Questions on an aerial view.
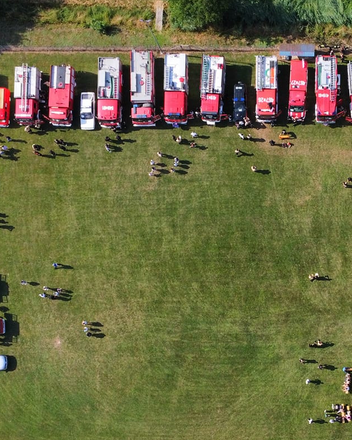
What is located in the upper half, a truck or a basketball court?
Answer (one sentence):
Looking in the upper half, you will find a truck.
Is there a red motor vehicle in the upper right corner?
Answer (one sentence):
Yes, looking in the upper right corner, one can make out a red motor vehicle.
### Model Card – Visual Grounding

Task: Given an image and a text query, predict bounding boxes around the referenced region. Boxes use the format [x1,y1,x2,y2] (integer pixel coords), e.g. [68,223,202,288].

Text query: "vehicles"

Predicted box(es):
[129,49,163,126]
[12,62,47,125]
[229,85,248,124]
[254,52,284,121]
[343,60,352,126]
[97,57,125,128]
[0,88,12,127]
[313,55,343,124]
[287,59,307,121]
[79,92,96,130]
[0,355,9,370]
[198,51,229,127]
[163,53,195,125]
[43,65,77,126]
